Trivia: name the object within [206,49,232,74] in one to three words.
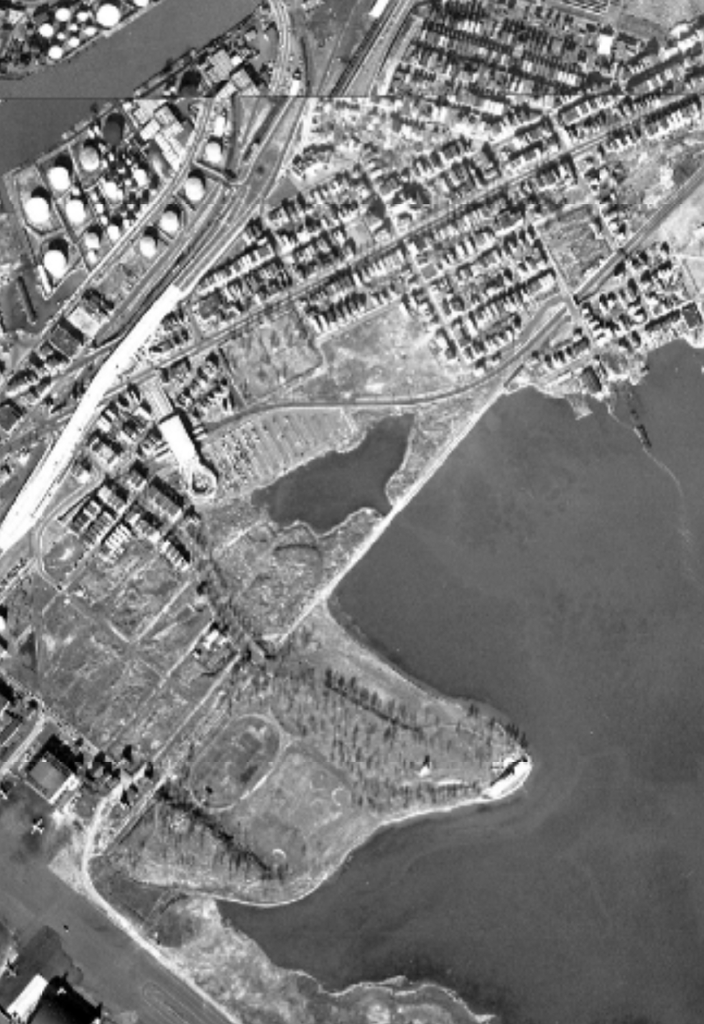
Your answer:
building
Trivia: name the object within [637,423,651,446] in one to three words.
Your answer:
ship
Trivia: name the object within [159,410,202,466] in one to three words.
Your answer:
building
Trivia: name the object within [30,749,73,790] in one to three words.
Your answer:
hangar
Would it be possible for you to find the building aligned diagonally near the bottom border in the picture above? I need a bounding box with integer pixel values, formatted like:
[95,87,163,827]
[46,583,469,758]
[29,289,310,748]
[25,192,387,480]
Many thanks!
[5,976,49,1023]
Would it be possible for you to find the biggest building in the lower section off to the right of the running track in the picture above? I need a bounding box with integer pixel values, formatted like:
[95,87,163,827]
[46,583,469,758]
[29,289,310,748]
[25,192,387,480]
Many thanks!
[489,763,525,796]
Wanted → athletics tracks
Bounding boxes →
[186,709,282,816]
